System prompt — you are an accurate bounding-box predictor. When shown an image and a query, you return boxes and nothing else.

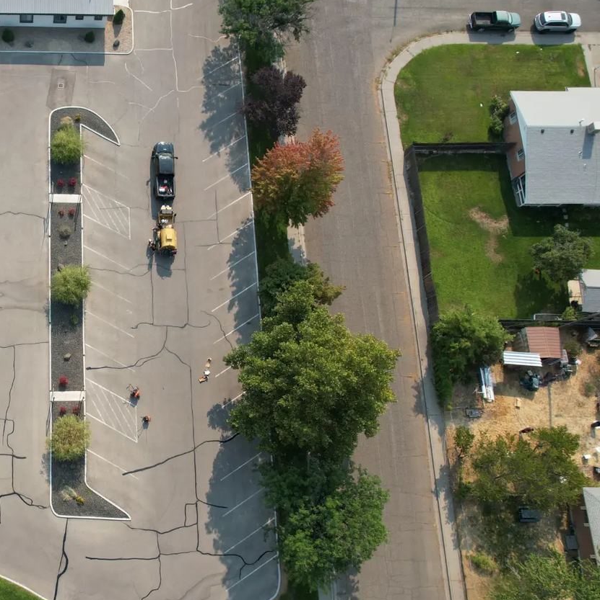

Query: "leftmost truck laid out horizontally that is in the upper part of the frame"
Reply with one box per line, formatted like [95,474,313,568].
[465,8,520,32]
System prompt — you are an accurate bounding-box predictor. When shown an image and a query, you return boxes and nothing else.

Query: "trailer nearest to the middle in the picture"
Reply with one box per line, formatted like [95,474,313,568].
[155,201,178,257]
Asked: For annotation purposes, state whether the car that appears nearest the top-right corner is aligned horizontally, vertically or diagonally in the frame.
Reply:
horizontally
